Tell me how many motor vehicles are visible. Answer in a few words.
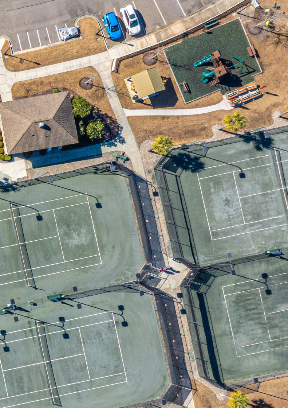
2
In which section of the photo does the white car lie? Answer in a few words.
top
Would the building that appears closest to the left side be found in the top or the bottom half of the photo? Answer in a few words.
top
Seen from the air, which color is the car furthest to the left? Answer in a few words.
blue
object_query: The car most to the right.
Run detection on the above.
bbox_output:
[118,2,140,35]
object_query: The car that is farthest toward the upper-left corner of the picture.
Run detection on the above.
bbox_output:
[101,11,122,41]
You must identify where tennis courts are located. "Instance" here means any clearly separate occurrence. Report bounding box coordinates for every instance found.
[0,164,147,308]
[156,126,288,267]
[0,278,172,408]
[181,247,288,385]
